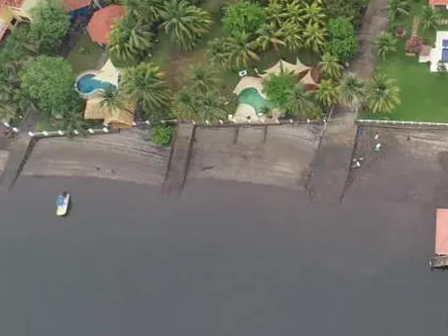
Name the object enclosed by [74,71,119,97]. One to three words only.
swimming pool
